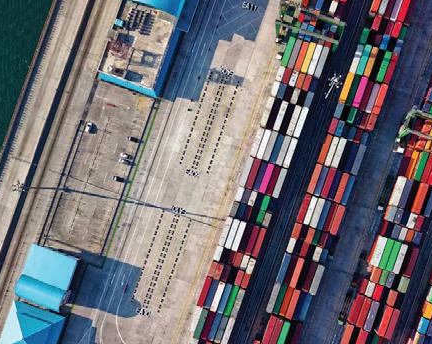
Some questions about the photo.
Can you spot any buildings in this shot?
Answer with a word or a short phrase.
Yes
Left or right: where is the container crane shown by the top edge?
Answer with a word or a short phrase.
right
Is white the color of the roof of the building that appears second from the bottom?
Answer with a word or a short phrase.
No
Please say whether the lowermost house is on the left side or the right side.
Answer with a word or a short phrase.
left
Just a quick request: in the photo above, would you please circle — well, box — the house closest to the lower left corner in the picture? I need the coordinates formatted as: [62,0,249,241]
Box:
[0,299,66,344]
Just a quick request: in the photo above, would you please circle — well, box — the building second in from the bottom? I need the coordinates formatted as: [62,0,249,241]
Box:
[11,243,85,311]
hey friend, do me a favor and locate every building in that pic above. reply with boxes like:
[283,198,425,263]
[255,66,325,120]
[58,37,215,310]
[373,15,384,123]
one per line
[93,0,210,101]
[0,299,66,344]
[11,243,85,311]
